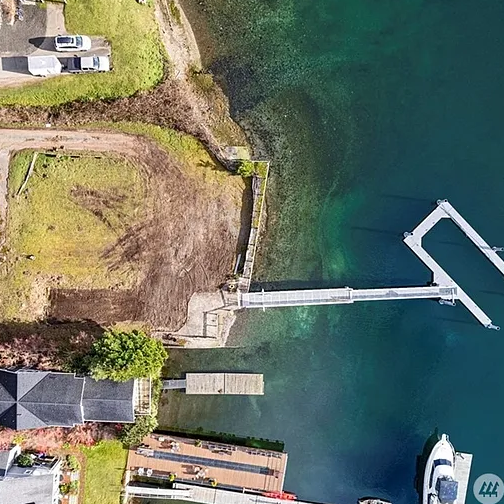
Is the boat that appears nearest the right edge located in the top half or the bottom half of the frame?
bottom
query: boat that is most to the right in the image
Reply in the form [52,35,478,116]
[420,430,459,504]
